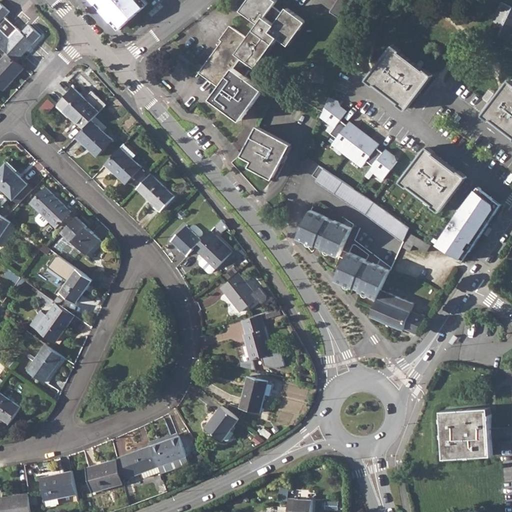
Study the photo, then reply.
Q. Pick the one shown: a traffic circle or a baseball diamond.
traffic circle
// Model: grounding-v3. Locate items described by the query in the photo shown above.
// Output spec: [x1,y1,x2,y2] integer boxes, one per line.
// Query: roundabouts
[299,352,406,504]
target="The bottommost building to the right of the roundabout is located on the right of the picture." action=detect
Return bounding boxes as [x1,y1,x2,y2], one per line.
[437,408,493,461]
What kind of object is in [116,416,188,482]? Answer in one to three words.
house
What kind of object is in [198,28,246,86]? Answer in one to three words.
building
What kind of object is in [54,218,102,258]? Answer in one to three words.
house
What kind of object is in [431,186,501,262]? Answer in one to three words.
building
